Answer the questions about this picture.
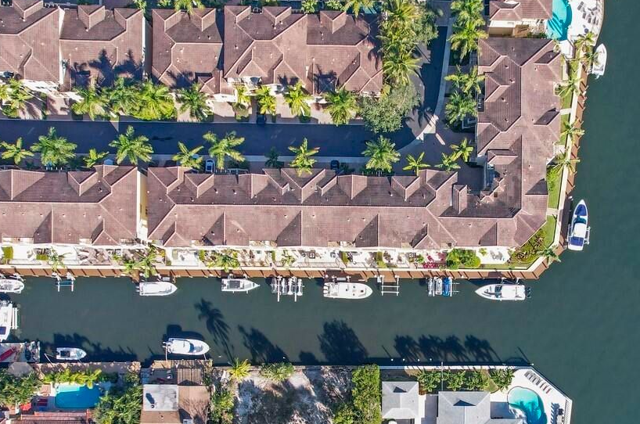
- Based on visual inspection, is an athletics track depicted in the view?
No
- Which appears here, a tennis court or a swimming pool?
swimming pool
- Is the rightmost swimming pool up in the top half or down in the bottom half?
top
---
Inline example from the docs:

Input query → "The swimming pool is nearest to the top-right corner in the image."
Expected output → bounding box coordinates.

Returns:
[546,0,574,41]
